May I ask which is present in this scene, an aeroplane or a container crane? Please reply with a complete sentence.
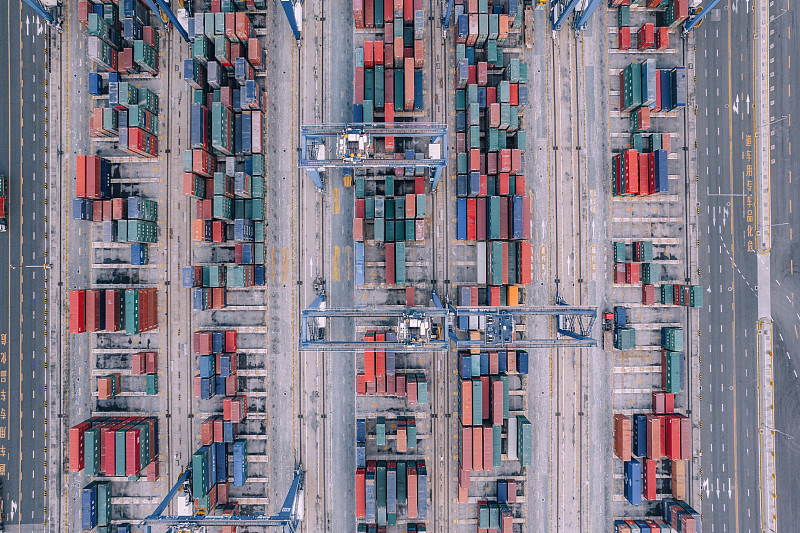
Visible in the photo is a container crane.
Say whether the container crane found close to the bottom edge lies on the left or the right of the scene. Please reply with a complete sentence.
The container crane found close to the bottom edge is on the left side of the image.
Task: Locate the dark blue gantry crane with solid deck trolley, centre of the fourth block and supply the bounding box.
[445,291,597,352]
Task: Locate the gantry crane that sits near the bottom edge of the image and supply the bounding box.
[143,463,305,533]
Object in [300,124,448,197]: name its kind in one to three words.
container crane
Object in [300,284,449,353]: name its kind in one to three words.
container crane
